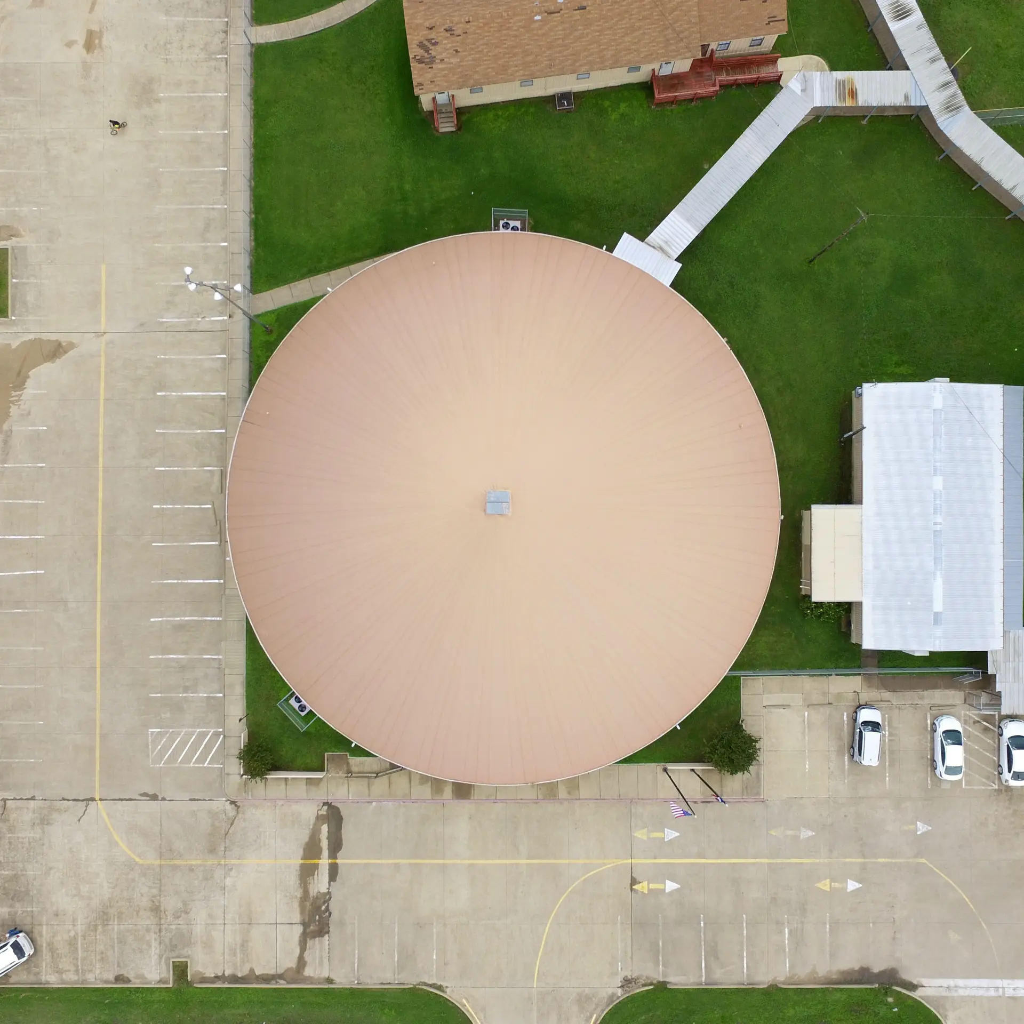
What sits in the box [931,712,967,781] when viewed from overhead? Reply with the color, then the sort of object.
white car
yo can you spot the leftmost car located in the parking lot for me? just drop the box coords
[0,931,38,977]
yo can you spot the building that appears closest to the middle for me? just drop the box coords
[227,232,782,787]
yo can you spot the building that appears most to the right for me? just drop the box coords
[851,378,1024,655]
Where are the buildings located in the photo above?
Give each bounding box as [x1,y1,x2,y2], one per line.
[402,0,788,110]
[851,378,1024,655]
[227,232,782,787]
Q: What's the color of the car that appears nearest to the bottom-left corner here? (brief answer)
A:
white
